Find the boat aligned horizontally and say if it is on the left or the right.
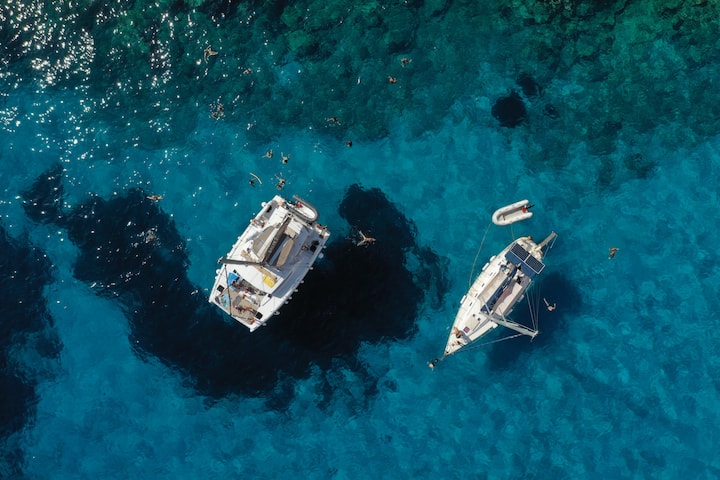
right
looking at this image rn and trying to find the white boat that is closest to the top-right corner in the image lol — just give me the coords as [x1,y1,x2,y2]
[494,197,536,223]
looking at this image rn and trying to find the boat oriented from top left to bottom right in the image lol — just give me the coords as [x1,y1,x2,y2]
[286,197,318,223]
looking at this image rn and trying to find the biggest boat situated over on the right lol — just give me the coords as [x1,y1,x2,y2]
[437,231,562,363]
